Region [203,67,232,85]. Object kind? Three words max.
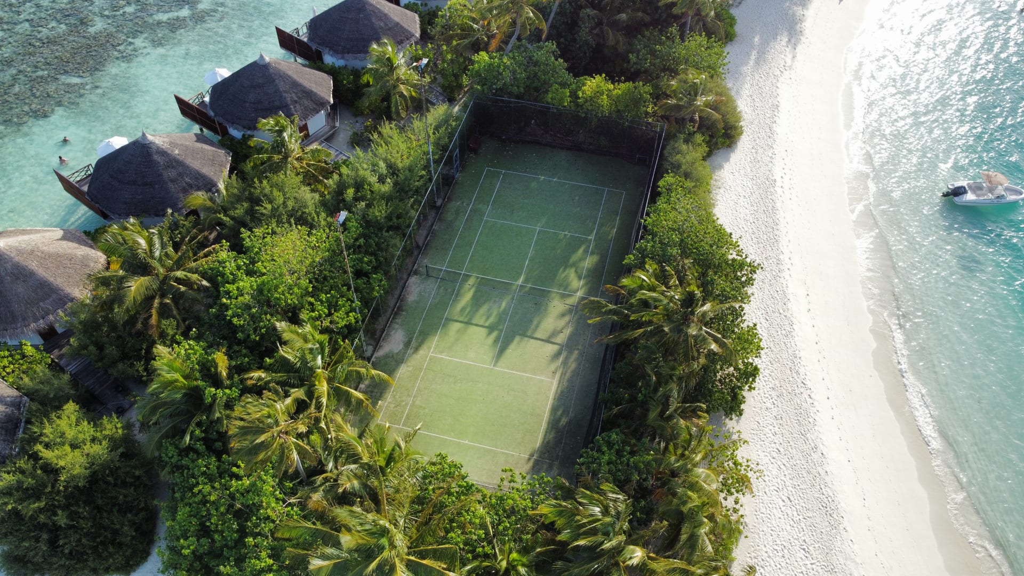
umbrella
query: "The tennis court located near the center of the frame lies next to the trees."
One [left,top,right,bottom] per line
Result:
[330,134,647,492]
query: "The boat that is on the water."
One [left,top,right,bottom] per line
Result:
[940,172,1024,206]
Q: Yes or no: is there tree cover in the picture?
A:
Yes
